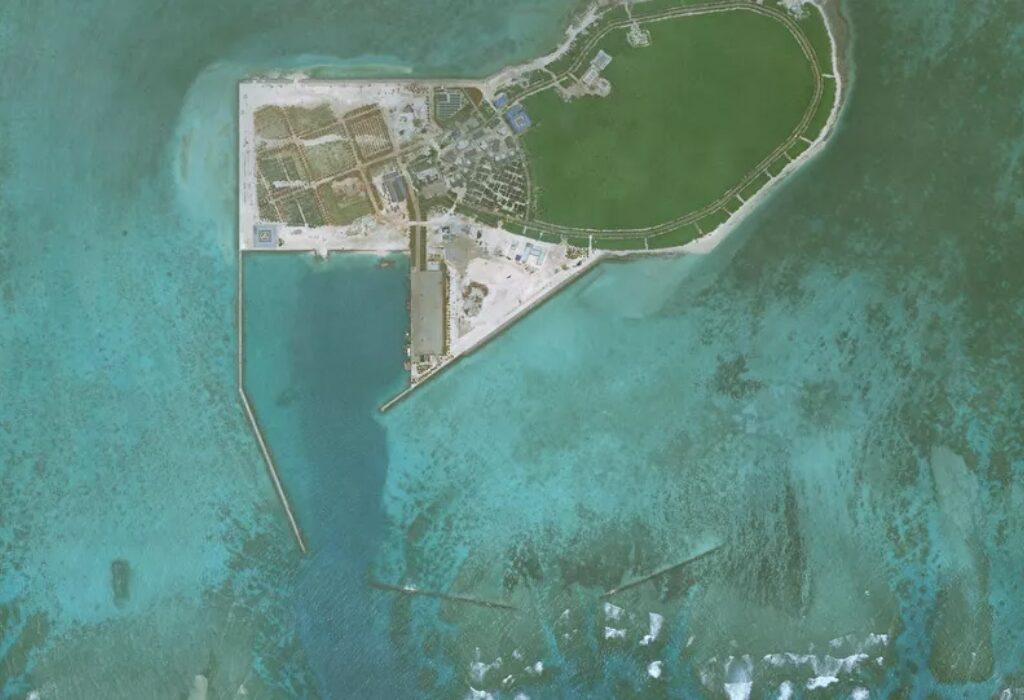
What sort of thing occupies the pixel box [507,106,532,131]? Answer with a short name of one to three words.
house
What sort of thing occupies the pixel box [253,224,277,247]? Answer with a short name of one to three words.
helipad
